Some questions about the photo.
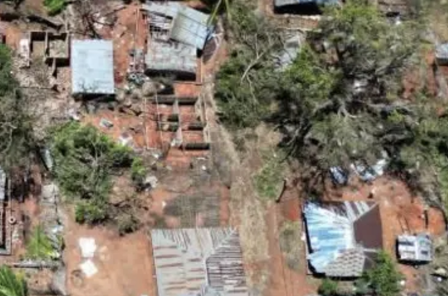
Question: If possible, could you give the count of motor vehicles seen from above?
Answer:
0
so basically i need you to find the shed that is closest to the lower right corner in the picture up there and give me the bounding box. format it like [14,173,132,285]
[388,236,432,264]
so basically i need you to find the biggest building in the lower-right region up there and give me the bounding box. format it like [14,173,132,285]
[299,200,382,278]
